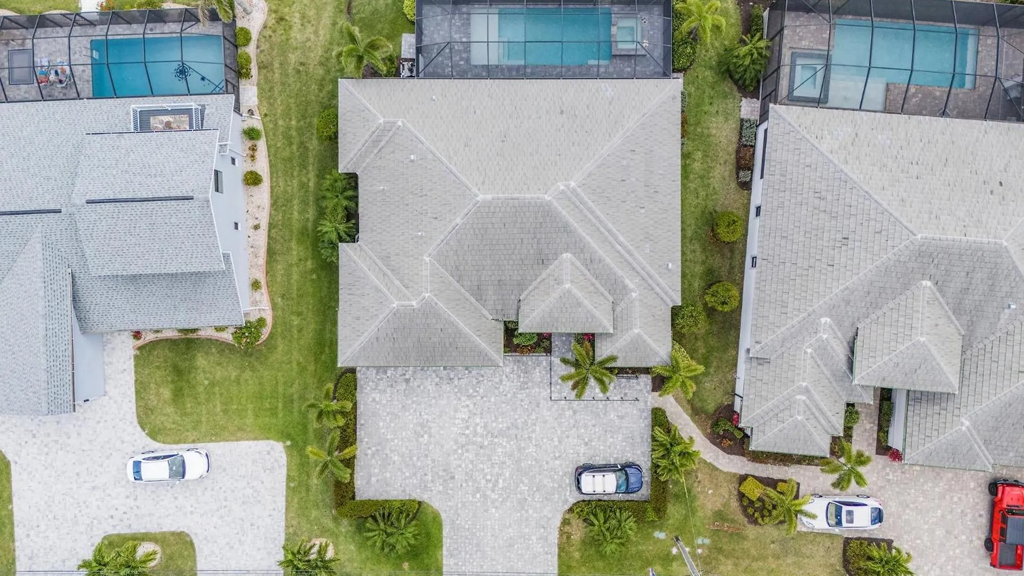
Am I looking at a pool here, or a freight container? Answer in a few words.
pool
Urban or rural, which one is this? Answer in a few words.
urban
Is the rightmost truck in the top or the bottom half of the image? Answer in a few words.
bottom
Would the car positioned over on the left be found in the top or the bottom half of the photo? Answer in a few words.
bottom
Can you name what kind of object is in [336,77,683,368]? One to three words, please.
house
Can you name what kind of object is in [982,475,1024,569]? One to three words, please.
truck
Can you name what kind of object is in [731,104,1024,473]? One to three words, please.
house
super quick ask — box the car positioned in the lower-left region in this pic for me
[128,446,213,486]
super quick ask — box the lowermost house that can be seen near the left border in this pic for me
[0,94,270,416]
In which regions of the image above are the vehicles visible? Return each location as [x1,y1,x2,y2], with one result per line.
[982,475,1024,569]
[128,446,213,486]
[796,491,881,533]
[575,459,644,500]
